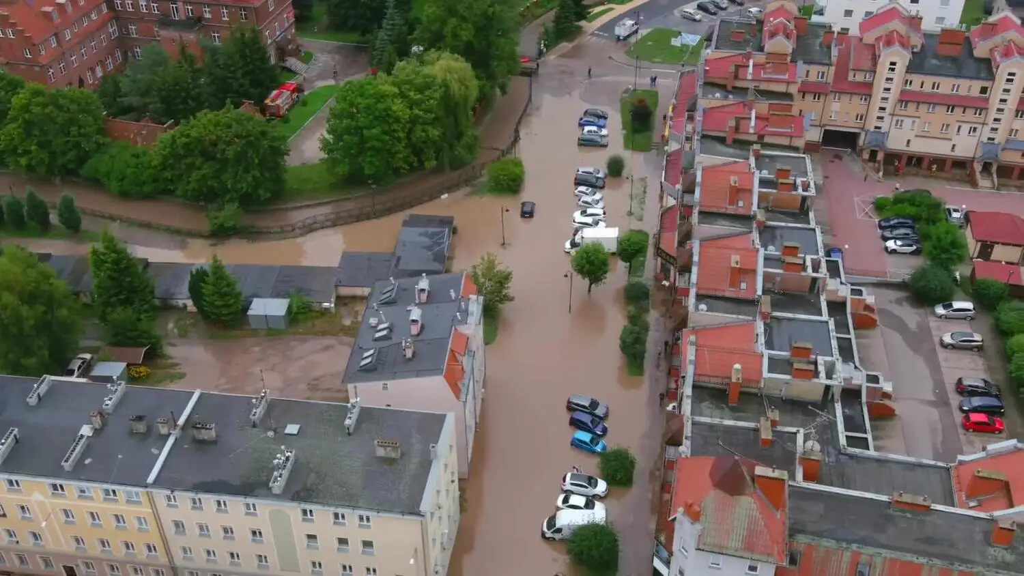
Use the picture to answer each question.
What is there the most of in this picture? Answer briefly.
buildings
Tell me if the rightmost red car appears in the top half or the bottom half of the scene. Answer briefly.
bottom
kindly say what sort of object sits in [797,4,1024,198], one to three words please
building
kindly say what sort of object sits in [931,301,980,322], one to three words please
car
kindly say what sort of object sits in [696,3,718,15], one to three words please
vehicle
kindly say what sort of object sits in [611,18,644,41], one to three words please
truck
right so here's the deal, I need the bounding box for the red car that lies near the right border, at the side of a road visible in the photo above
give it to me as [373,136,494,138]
[959,413,1006,437]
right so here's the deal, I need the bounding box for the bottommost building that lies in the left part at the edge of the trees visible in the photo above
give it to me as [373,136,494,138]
[0,374,456,576]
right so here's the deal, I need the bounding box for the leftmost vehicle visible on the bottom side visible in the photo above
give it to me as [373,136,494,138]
[64,351,99,374]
